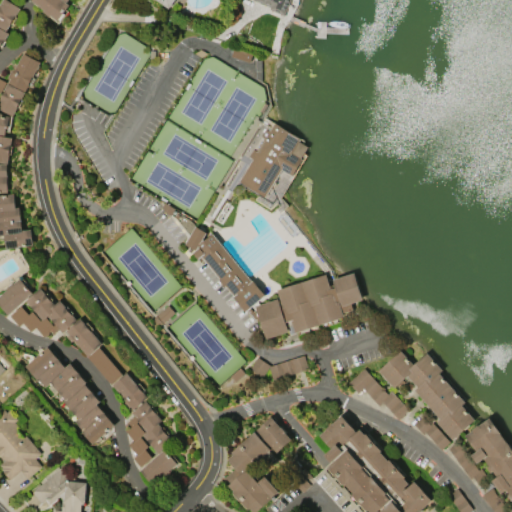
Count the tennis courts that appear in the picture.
7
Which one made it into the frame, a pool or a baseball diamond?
pool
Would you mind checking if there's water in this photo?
Yes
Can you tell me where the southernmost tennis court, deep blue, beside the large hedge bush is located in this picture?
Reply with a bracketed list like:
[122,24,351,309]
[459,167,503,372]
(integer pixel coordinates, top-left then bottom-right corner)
[170,304,246,384]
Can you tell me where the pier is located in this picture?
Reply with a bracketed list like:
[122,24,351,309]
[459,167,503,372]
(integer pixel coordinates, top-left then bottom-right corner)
[292,16,350,40]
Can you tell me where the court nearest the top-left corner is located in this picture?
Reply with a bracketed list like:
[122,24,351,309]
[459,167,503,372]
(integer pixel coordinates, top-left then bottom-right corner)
[84,33,150,114]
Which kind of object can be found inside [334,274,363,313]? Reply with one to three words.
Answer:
building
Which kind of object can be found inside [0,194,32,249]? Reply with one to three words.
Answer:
house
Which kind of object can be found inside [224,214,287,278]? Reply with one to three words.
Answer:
swimming pool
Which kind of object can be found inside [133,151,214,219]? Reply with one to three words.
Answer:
tennis court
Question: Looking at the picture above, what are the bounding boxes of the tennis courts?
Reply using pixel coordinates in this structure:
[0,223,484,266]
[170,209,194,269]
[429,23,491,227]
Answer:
[150,120,234,190]
[169,57,240,138]
[170,304,246,384]
[133,151,214,219]
[106,230,182,311]
[84,33,150,114]
[198,72,266,159]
